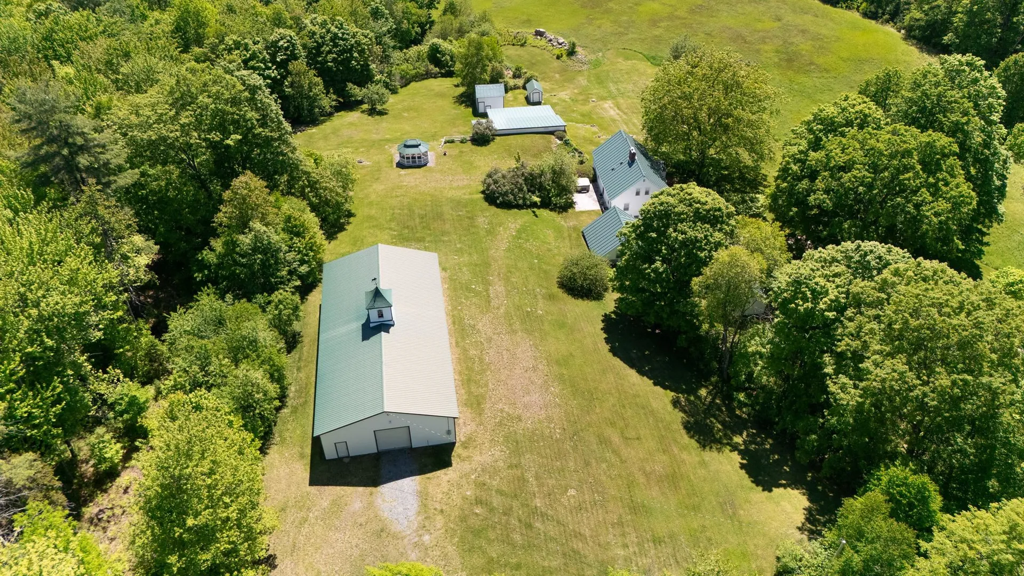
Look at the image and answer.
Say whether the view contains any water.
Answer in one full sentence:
No, water can't be seen anywhere here.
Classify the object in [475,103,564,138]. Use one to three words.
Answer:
shed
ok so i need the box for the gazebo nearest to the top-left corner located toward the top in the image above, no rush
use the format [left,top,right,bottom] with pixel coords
[394,136,432,166]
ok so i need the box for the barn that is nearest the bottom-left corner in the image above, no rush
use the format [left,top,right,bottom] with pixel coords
[315,243,458,460]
